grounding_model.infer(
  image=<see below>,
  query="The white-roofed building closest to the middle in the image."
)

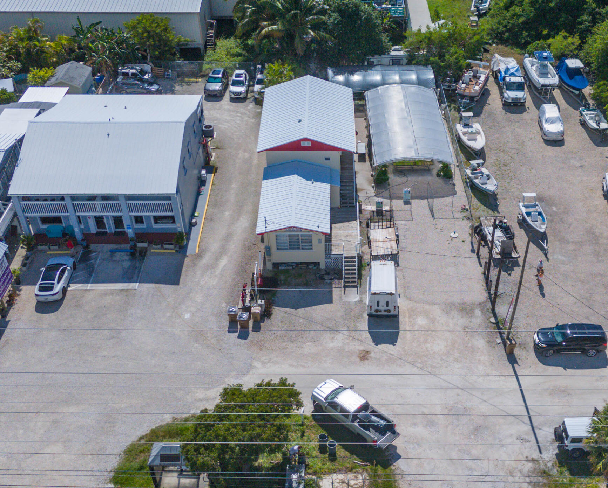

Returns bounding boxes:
[256,176,331,265]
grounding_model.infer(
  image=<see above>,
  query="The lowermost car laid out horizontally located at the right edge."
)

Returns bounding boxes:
[531,325,608,363]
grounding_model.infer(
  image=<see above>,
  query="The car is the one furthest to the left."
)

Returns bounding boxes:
[34,255,78,301]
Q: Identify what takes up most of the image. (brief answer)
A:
paved ground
